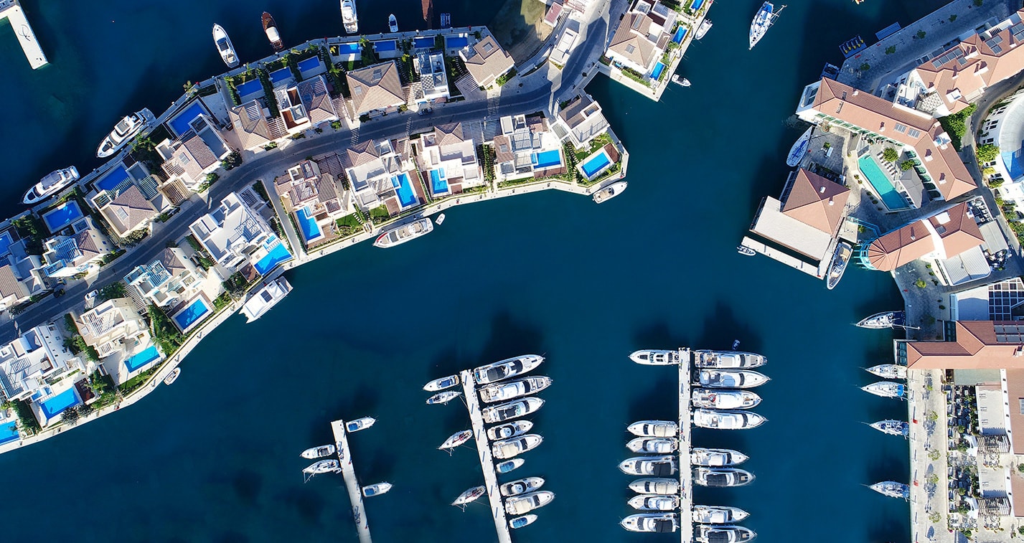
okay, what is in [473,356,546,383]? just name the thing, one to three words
boat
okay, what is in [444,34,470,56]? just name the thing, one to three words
swimming pool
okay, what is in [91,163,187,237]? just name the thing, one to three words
house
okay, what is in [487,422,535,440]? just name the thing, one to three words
boat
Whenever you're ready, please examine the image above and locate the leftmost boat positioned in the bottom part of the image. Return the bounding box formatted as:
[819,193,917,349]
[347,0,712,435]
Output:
[165,368,185,386]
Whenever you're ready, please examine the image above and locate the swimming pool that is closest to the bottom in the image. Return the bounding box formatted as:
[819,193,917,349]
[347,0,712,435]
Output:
[0,418,23,446]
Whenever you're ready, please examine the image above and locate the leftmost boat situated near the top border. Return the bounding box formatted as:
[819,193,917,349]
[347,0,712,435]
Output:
[211,21,240,70]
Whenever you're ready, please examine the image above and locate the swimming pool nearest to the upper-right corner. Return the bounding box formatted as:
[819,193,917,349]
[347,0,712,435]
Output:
[854,151,913,215]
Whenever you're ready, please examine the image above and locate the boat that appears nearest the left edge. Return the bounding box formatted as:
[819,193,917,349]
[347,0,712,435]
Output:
[16,165,82,204]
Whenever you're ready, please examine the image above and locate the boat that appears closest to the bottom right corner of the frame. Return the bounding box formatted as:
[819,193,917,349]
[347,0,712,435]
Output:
[867,482,912,503]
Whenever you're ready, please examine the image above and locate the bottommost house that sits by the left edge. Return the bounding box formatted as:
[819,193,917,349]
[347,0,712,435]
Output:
[0,327,90,403]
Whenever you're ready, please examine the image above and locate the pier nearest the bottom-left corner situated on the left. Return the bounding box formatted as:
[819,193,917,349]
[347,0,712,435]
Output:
[331,419,372,543]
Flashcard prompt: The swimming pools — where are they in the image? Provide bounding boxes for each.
[0,231,18,255]
[92,154,136,193]
[166,290,215,335]
[293,204,339,247]
[0,418,23,446]
[31,378,95,422]
[671,25,689,45]
[531,147,567,177]
[576,143,620,182]
[421,167,463,196]
[337,40,363,60]
[854,151,913,215]
[385,169,426,215]
[412,34,437,52]
[267,64,295,88]
[163,96,219,140]
[444,34,470,56]
[691,0,705,12]
[40,201,85,233]
[120,343,165,378]
[298,52,325,80]
[648,60,666,81]
[240,235,296,282]
[372,38,398,57]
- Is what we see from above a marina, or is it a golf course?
marina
